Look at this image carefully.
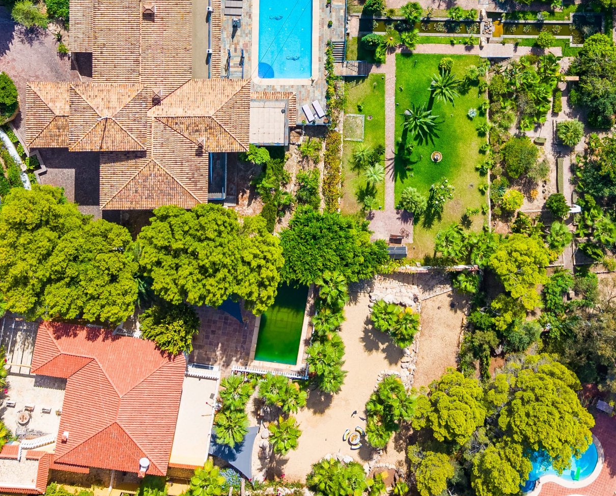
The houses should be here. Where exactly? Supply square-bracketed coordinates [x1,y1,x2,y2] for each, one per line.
[24,0,296,210]
[30,318,223,496]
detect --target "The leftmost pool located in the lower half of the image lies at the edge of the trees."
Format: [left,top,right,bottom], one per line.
[250,274,314,370]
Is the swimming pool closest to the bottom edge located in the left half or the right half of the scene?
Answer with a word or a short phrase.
right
